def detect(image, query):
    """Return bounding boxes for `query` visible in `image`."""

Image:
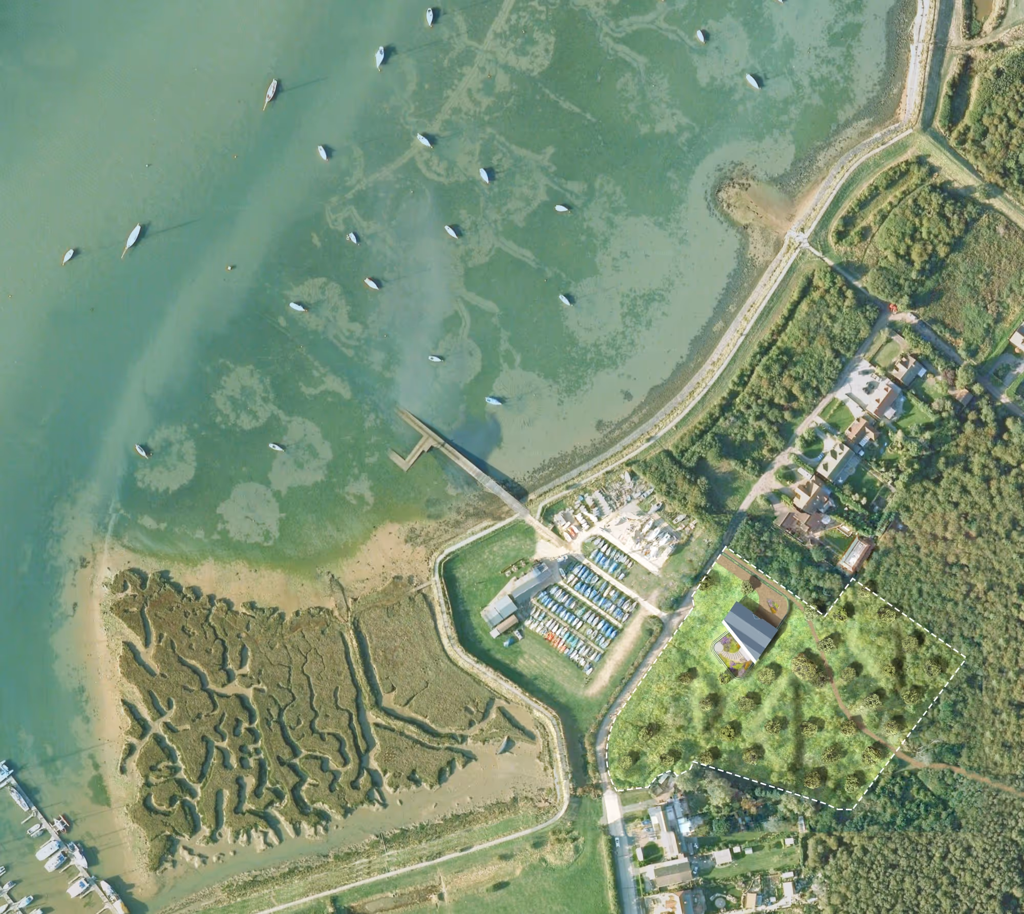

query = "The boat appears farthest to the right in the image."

[745,71,760,88]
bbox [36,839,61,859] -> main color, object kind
white boat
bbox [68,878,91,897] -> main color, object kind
white boat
